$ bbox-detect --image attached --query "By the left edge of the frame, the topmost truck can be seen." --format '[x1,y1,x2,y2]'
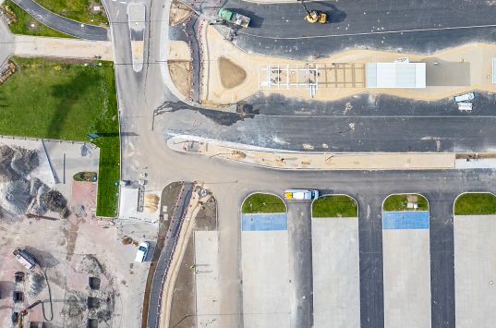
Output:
[9,249,34,271]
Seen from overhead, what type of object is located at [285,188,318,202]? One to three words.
vehicle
